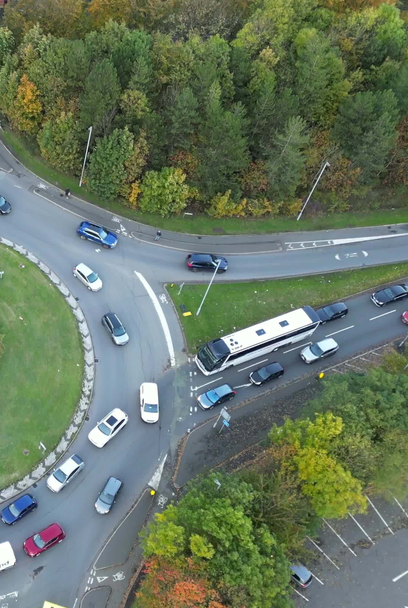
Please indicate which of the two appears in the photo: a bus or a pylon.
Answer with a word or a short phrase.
bus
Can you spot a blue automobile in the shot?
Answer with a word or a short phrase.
Yes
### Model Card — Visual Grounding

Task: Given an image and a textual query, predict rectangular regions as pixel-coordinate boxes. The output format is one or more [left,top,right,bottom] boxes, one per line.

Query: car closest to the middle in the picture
[186,253,228,275]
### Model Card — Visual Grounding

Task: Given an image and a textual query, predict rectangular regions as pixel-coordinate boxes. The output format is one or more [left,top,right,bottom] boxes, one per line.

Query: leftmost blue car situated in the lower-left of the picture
[0,492,39,525]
